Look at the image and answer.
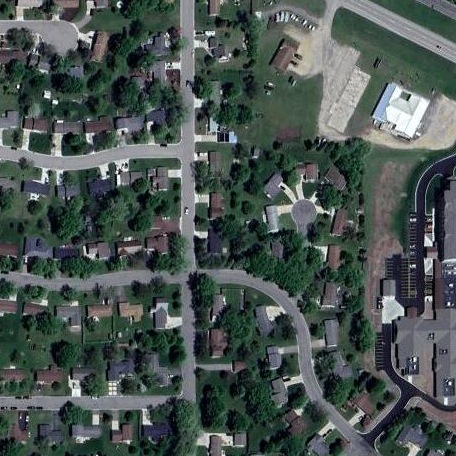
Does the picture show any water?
No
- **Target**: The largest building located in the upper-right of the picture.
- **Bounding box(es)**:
[372,83,431,138]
